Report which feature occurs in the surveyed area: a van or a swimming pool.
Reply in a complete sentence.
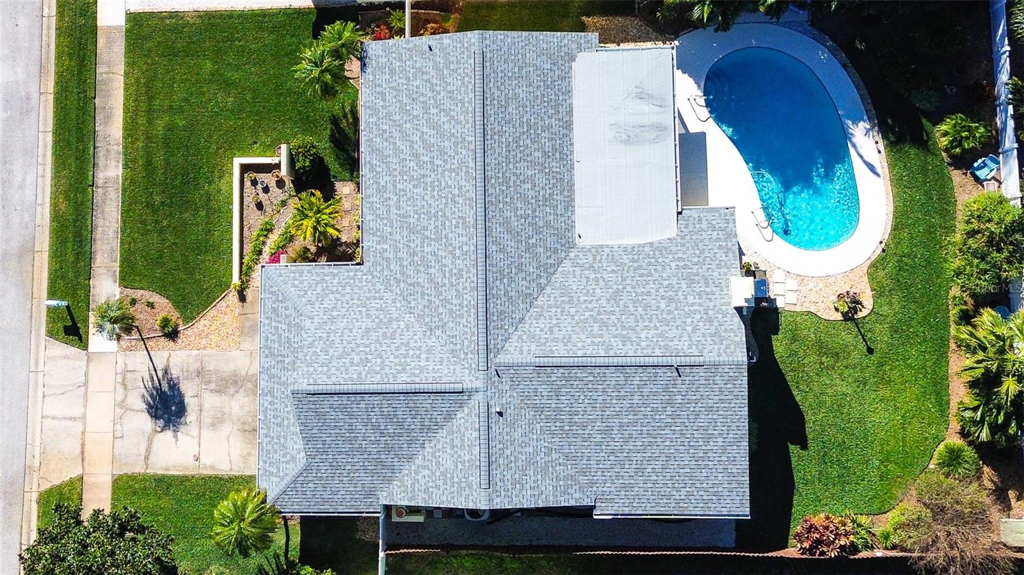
The one in the frame is a swimming pool.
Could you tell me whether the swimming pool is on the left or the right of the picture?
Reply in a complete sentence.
You can find the swimming pool on the right side of the picture.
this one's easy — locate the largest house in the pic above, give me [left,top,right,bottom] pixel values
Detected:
[254,30,754,520]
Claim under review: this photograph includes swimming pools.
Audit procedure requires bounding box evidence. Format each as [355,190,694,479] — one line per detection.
[701,43,863,253]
